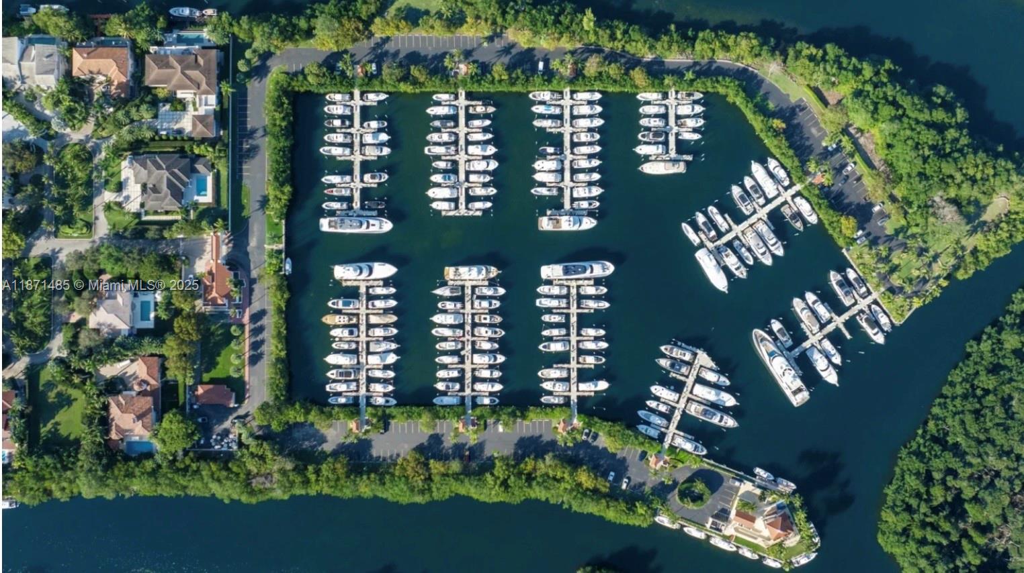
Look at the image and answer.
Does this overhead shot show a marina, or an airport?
marina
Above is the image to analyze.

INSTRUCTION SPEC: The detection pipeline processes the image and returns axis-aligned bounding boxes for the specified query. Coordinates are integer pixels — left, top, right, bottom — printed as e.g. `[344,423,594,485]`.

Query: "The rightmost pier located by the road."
[774,288,884,376]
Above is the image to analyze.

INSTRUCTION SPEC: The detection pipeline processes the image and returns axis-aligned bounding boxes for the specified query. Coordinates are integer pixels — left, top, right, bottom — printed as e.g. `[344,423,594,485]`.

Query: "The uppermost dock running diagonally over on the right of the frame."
[698,178,810,266]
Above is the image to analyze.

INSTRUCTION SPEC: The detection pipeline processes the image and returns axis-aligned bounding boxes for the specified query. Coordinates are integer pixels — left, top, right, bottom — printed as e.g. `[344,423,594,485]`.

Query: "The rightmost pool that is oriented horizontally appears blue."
[176,31,203,43]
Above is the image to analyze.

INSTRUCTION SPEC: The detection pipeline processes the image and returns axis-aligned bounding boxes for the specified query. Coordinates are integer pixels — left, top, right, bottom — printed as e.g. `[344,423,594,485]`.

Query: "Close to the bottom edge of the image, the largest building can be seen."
[724,499,800,548]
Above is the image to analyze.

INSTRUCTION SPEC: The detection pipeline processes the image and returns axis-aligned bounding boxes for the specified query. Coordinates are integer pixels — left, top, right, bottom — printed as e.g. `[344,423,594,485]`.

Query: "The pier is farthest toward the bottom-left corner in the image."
[342,280,383,429]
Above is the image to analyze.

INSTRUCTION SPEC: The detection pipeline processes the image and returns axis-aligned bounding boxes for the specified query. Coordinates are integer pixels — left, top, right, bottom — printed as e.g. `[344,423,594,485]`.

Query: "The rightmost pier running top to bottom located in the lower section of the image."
[651,340,711,454]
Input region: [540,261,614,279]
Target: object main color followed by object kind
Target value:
white boat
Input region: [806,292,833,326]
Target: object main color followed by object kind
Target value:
white boat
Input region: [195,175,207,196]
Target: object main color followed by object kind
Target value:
blue swimming pool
